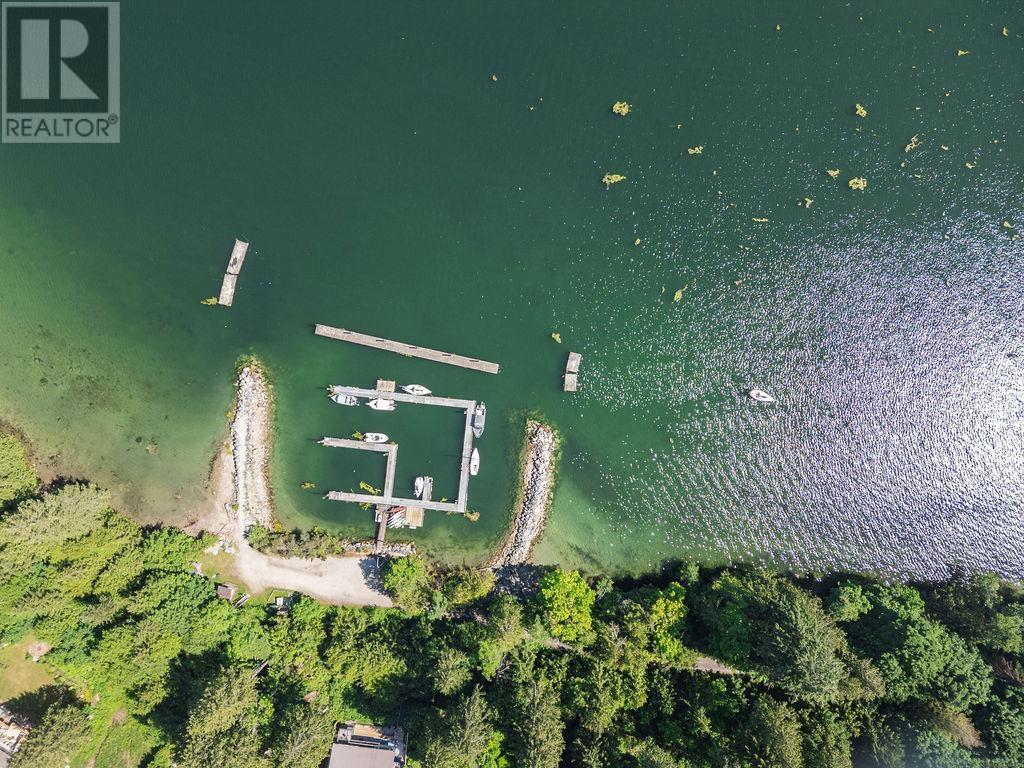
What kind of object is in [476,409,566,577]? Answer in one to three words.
pier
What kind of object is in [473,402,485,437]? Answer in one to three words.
boat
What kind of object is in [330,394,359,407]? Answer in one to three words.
boat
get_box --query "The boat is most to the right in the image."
[749,388,779,401]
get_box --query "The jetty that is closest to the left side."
[226,353,288,543]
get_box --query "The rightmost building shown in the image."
[330,720,407,768]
